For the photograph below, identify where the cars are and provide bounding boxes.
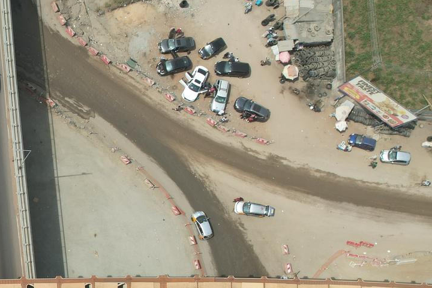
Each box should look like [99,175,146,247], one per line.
[190,210,215,242]
[197,35,230,61]
[182,63,212,104]
[154,54,194,76]
[231,98,273,124]
[213,60,251,79]
[233,198,276,218]
[156,30,197,57]
[343,133,379,153]
[209,79,232,114]
[378,148,412,165]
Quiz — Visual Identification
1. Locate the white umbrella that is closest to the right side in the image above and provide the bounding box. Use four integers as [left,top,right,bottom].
[330,119,348,132]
